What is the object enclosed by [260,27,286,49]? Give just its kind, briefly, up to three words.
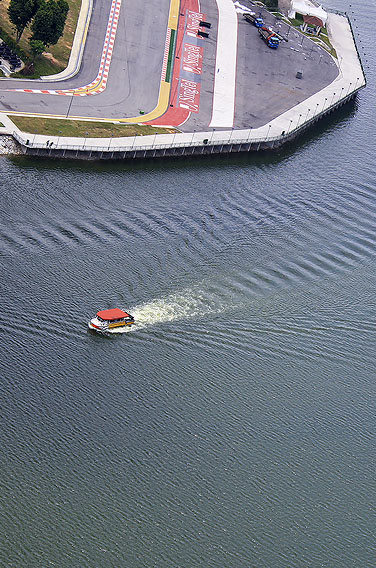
truck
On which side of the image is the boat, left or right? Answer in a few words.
left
